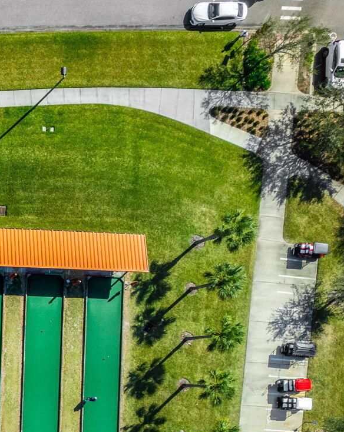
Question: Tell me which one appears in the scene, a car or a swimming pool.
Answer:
car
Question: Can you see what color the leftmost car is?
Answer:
white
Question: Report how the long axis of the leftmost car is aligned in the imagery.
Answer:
from left to right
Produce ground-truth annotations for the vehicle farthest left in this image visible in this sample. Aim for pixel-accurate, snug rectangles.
[191,1,245,28]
